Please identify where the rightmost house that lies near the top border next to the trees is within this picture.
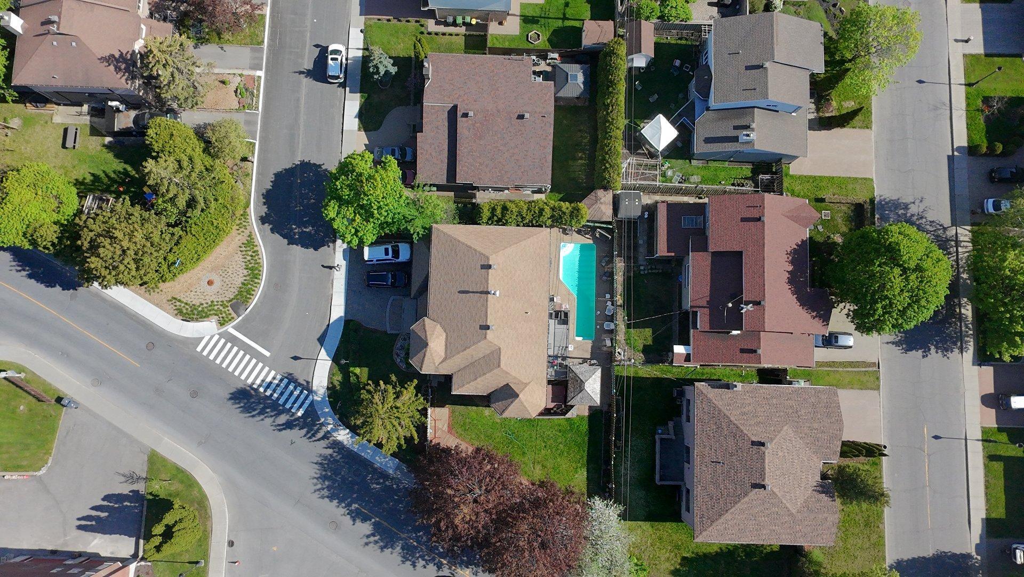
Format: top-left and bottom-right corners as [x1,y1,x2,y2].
[689,11,825,165]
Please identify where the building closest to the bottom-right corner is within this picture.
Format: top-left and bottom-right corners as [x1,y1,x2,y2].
[683,382,844,546]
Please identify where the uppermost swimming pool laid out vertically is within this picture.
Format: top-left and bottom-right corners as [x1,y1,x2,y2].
[558,241,597,342]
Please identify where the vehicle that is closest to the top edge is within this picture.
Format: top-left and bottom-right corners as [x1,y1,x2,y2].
[326,44,346,84]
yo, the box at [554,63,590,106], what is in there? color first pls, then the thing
gray gazebo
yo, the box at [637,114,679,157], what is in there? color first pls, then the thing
white tent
